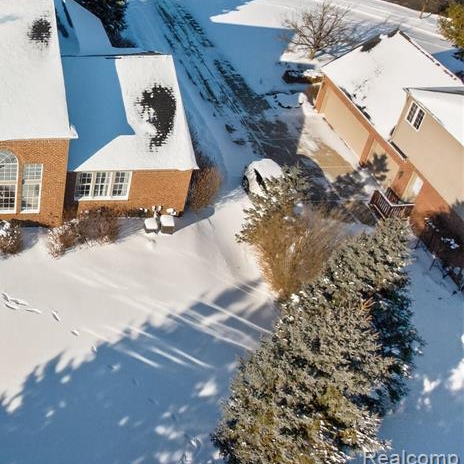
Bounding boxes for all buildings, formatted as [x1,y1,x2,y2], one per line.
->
[316,21,464,257]
[0,0,199,227]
